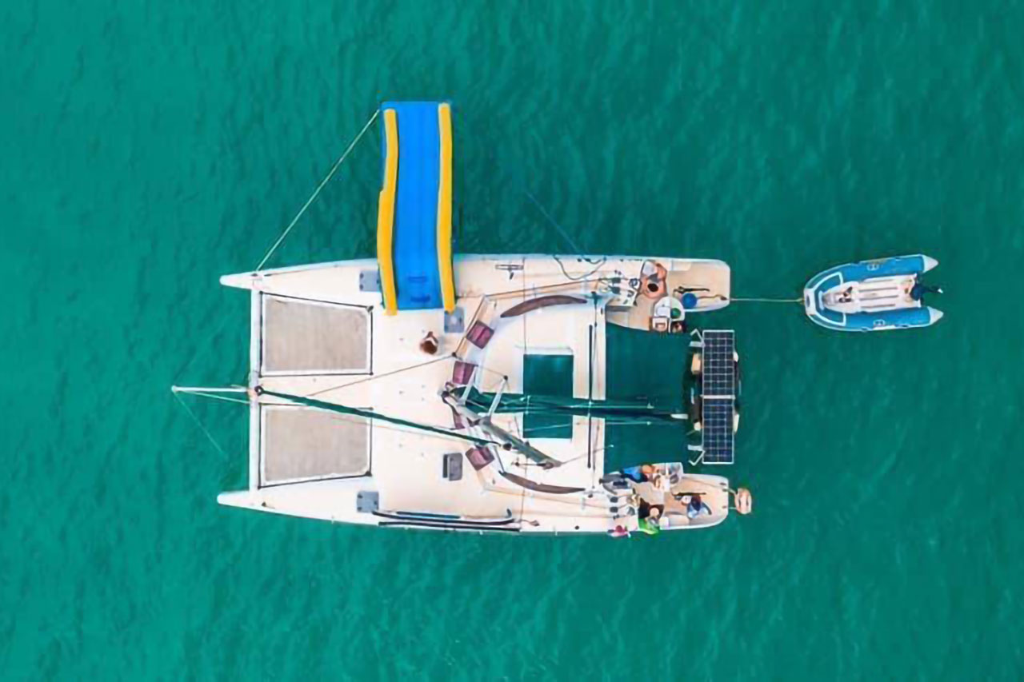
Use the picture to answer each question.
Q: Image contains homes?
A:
No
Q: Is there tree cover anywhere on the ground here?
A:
No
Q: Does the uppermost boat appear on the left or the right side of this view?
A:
right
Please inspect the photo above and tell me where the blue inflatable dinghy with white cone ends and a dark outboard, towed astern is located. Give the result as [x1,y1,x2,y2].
[804,255,944,333]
